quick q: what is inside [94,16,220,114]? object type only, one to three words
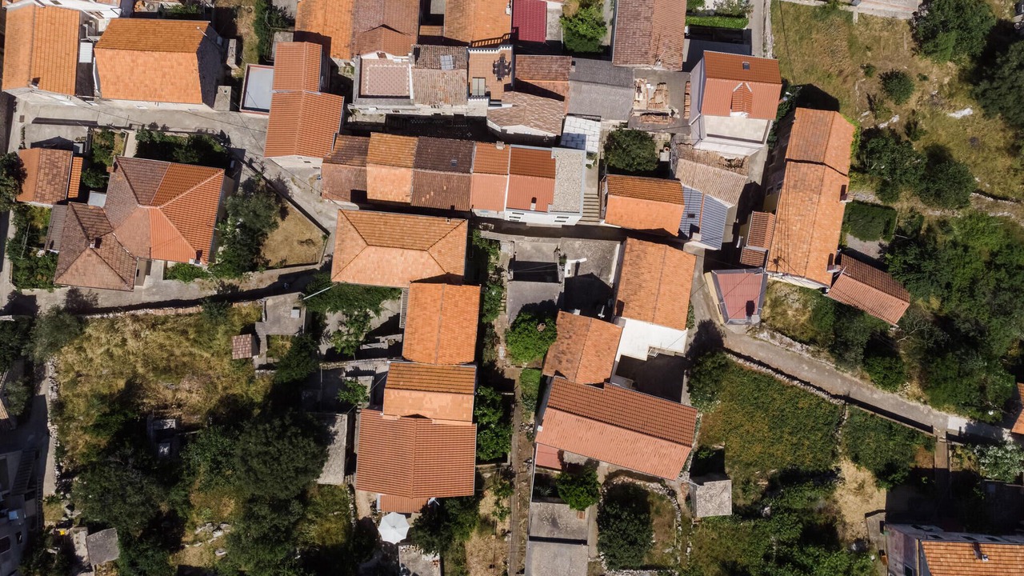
house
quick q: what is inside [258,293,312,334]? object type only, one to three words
shed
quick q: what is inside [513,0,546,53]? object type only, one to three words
shed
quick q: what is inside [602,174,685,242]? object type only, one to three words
house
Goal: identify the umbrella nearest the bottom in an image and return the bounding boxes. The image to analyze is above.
[377,514,409,544]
